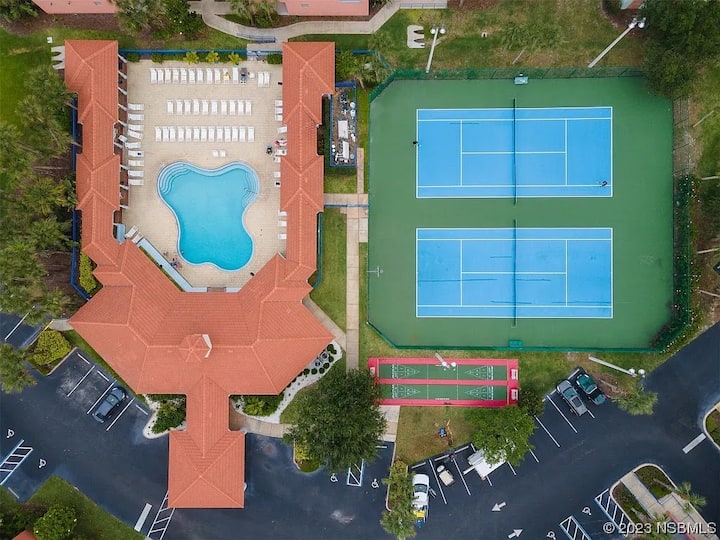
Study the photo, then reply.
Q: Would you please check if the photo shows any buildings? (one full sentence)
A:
Yes, you can see a building in this photo.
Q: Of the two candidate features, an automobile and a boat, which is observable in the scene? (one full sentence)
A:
The one in the frame is an automobile.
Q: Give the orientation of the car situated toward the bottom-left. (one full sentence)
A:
The car situated toward the bottom-left is oriented diagonally.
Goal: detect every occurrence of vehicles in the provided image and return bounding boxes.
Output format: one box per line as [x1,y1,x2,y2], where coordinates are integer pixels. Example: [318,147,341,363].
[556,380,592,420]
[90,388,124,424]
[412,475,436,526]
[436,464,455,490]
[575,369,609,407]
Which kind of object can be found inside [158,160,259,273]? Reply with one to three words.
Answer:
swimming pool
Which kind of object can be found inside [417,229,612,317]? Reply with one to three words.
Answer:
tennis court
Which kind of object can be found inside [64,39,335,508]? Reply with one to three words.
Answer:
building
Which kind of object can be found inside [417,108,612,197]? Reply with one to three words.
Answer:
tennis court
